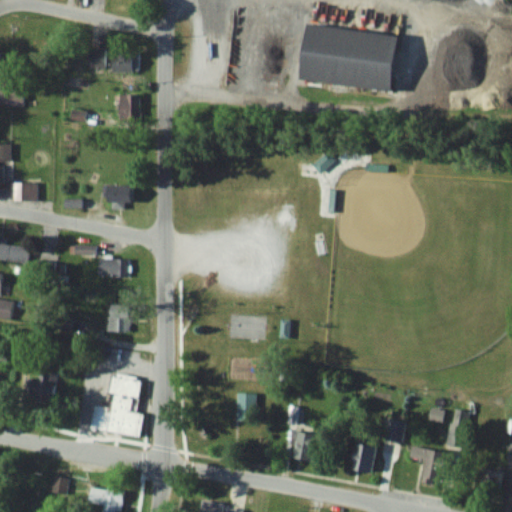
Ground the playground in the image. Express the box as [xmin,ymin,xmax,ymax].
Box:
[230,358,258,381]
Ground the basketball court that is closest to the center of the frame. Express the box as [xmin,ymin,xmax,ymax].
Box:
[230,316,267,340]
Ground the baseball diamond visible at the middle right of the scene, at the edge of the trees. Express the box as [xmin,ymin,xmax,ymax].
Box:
[326,167,512,372]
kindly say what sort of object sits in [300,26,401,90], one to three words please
building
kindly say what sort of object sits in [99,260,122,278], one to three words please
house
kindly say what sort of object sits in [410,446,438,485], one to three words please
house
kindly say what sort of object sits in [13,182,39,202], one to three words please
shed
